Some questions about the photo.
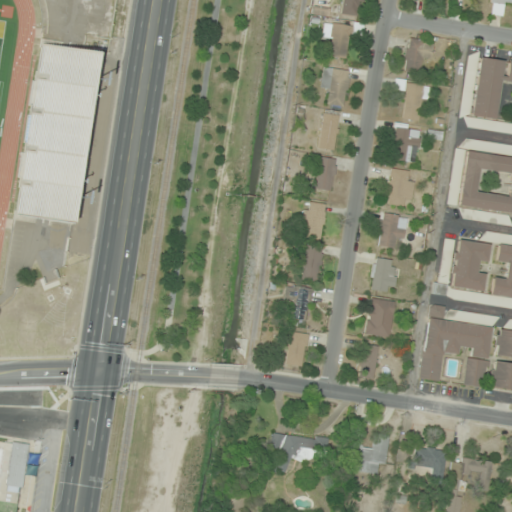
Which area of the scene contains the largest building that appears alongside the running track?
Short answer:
top left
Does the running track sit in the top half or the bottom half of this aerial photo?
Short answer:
top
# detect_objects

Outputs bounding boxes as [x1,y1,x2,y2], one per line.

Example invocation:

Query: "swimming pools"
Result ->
[445,359,459,378]
[294,491,314,509]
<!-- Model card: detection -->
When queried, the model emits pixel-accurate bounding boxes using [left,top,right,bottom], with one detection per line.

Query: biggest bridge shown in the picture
[212,364,246,389]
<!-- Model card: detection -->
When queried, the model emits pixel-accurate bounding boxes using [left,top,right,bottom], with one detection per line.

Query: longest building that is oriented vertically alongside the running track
[15,44,104,227]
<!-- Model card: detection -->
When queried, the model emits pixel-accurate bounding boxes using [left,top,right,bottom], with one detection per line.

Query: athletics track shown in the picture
[0,0,36,262]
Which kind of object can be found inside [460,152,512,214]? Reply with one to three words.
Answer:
building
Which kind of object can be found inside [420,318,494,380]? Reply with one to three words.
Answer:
building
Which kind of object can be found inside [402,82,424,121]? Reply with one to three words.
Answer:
house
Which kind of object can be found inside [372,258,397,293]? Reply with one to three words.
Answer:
house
